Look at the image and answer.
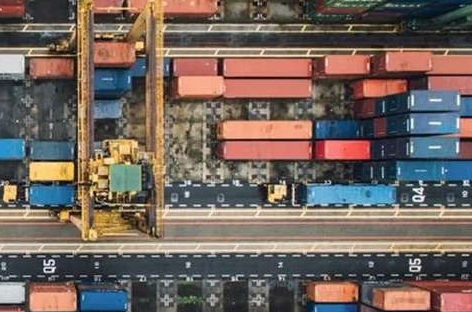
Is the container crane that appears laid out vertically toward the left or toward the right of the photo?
left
